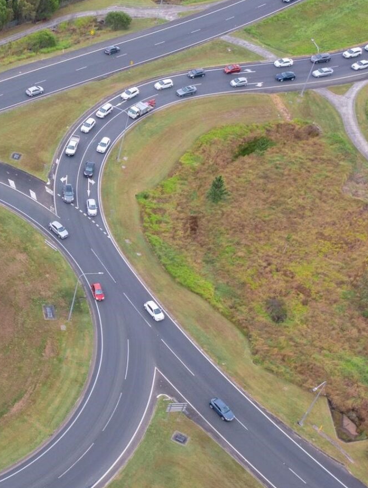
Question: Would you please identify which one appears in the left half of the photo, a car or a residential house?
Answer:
car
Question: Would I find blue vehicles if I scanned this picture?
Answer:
Yes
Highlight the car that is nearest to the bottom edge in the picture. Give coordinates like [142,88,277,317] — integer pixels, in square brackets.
[209,398,235,422]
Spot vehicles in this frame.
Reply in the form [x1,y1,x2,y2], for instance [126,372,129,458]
[312,68,333,77]
[128,98,155,118]
[84,161,95,178]
[81,119,96,133]
[275,72,296,82]
[63,184,74,203]
[102,45,122,56]
[186,66,208,78]
[222,64,243,74]
[25,87,44,97]
[49,221,69,239]
[91,283,105,302]
[65,136,81,155]
[273,58,294,68]
[351,60,368,71]
[230,77,249,87]
[96,102,113,118]
[176,86,198,97]
[121,87,139,99]
[143,300,164,321]
[87,199,98,216]
[342,47,363,58]
[97,137,110,152]
[209,398,235,422]
[155,78,173,89]
[310,52,332,63]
